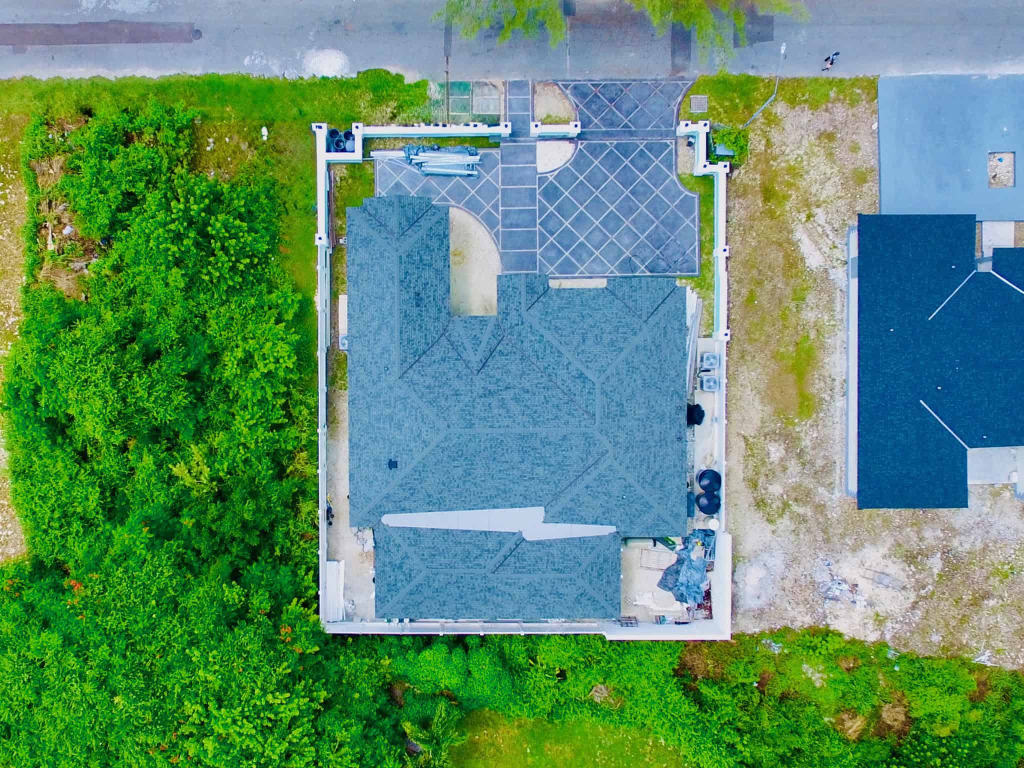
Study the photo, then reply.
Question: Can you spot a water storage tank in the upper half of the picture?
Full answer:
No, no water storage tank appears in the upper half of the picture.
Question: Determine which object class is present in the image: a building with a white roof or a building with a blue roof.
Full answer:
Of the two, only a building with a blue roof appears.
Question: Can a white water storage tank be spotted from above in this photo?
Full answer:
No, the photo shows no white water storage tank.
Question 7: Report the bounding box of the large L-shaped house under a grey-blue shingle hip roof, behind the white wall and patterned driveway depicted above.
[346,195,686,619]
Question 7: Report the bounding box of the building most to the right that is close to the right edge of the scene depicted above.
[847,215,1024,508]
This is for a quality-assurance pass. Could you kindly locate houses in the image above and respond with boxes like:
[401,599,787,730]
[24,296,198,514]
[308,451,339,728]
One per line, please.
[346,195,686,619]
[847,215,1024,508]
